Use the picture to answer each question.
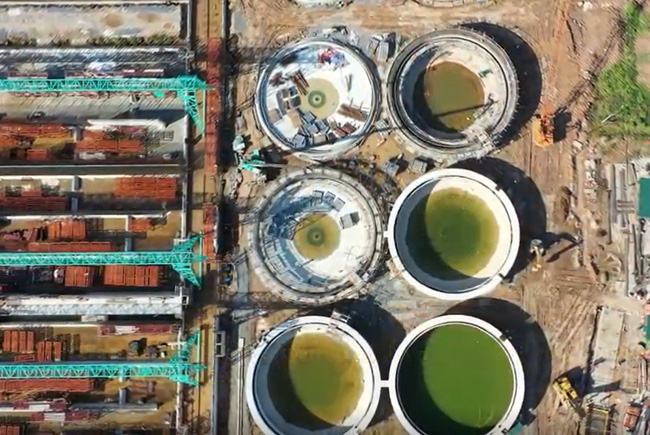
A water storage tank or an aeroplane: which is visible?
water storage tank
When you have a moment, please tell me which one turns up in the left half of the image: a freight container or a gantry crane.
gantry crane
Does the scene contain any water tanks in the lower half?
Yes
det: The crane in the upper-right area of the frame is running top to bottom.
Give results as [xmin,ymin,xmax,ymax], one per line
[526,20,566,145]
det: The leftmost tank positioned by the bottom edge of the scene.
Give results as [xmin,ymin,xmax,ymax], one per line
[245,312,383,435]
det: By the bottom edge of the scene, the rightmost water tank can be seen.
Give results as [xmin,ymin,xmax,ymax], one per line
[385,311,525,435]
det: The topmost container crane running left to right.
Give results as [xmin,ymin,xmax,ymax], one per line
[0,76,213,135]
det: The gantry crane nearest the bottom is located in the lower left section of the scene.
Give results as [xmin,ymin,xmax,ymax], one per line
[0,328,205,390]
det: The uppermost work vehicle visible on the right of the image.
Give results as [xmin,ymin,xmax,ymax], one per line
[525,234,553,266]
